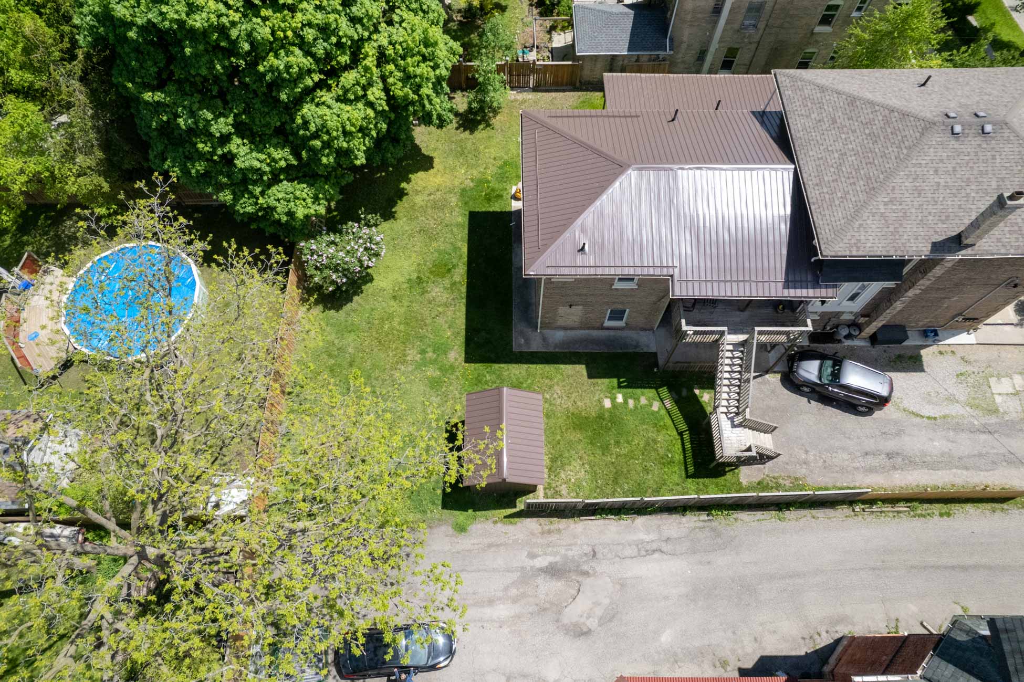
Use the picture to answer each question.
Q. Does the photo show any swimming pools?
Yes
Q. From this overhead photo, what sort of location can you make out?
residential area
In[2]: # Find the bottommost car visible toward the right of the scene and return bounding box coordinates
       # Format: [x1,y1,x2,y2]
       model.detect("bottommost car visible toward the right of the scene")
[788,352,892,414]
